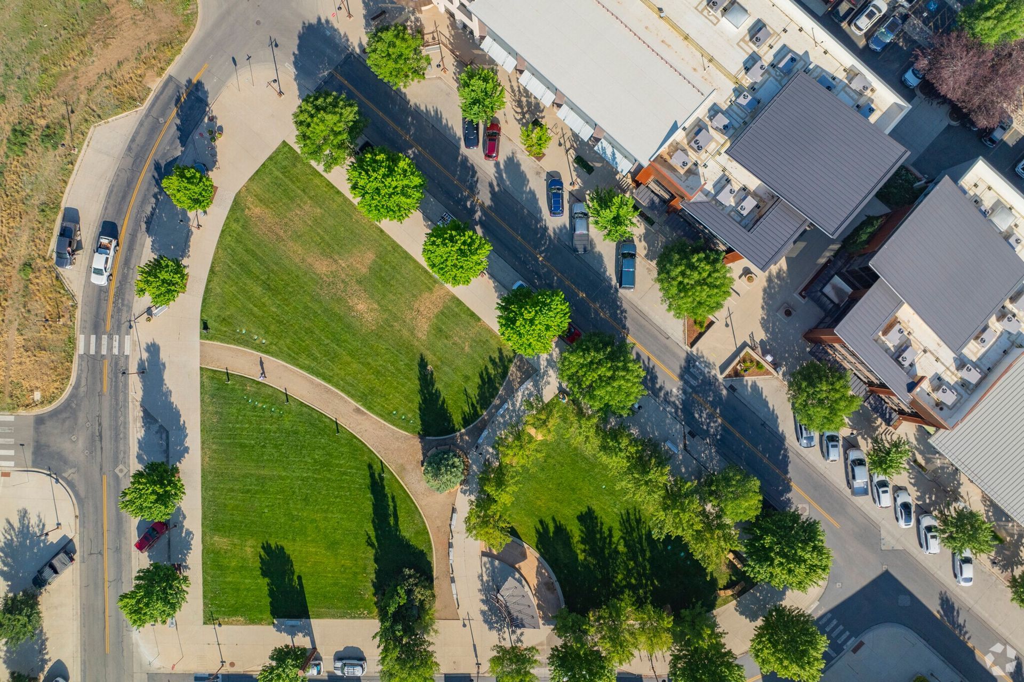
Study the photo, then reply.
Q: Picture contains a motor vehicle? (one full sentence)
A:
Yes, a motor vehicle appears in the view.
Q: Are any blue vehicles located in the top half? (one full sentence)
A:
Yes, the scene does show a blue vehicle in the top half.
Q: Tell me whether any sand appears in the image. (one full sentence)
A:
No, the picture contains no sand.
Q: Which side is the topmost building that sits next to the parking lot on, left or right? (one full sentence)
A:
You can find the topmost building that sits next to the parking lot on the right side of the picture.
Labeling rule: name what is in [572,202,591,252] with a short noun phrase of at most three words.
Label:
vehicle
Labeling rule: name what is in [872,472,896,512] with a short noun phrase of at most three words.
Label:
car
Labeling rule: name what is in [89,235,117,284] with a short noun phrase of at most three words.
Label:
truck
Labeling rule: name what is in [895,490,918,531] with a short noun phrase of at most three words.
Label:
car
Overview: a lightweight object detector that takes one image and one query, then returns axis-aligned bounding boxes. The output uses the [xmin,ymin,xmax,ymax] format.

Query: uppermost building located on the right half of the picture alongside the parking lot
[431,0,910,271]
